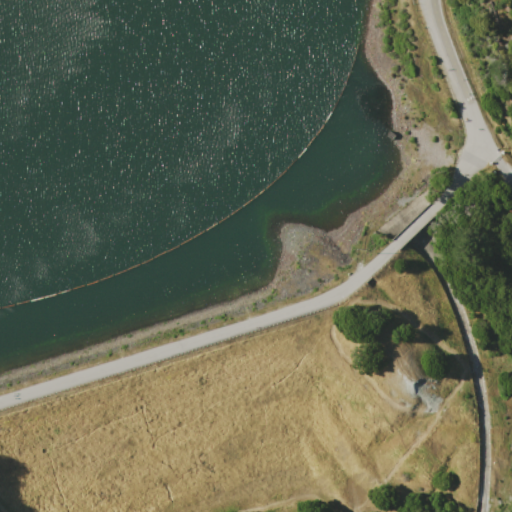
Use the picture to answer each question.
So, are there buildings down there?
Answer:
No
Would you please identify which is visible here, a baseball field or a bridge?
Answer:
bridge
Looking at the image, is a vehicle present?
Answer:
No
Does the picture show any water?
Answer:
Yes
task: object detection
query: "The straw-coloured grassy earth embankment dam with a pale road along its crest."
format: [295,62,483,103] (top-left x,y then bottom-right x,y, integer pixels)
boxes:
[0,283,398,512]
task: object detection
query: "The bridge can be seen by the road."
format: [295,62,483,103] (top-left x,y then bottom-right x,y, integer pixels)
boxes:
[392,202,442,250]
